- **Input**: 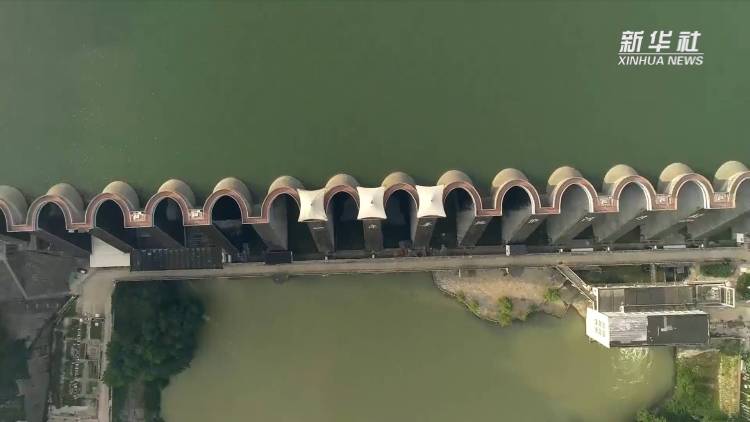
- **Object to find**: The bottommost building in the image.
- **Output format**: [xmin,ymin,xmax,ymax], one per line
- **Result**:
[588,306,711,349]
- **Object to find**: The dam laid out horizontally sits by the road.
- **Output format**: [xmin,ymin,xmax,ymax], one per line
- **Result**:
[0,160,750,260]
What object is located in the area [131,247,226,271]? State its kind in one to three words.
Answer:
shed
